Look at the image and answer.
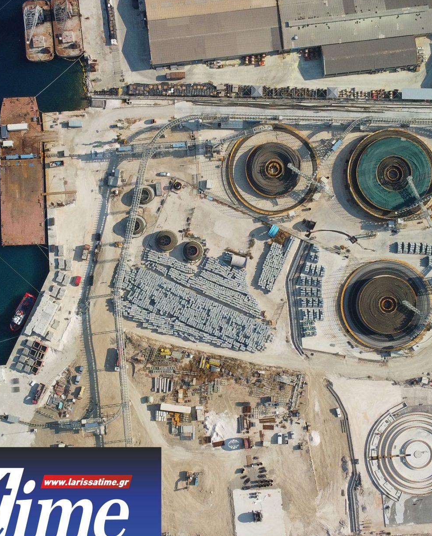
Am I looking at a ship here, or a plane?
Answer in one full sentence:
Looking from above, you can make out a ship.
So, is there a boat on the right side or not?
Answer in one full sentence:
No, I can find no boat on the right side.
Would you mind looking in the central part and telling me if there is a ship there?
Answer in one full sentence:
No, looking in the central part, there is no ship.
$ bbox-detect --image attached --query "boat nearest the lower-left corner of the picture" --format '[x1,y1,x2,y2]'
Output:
[11,293,37,329]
